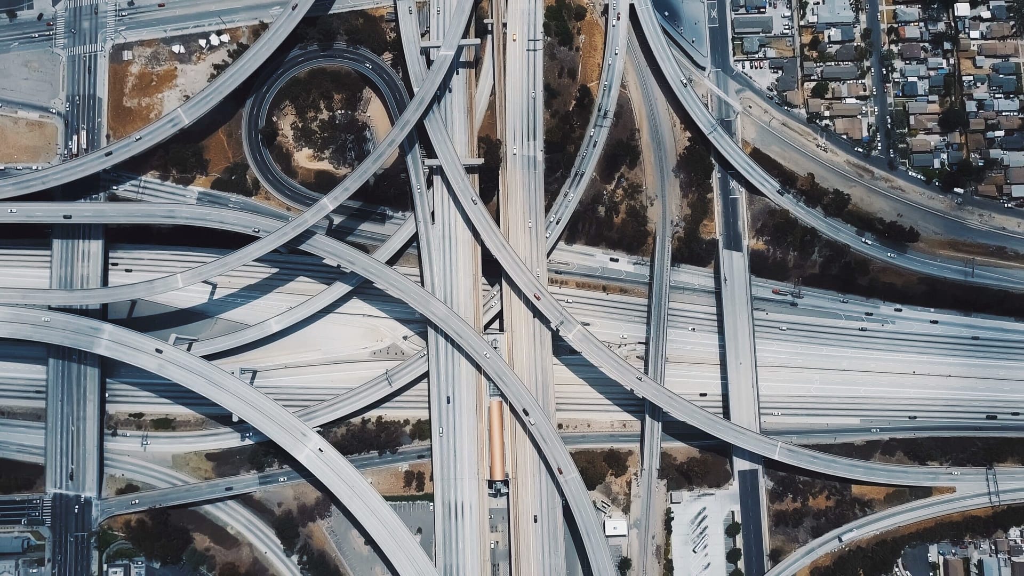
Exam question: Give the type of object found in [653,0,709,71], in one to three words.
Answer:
building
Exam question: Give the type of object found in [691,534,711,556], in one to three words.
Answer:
bus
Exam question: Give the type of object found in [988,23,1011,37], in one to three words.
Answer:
house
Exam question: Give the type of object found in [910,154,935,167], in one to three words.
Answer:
house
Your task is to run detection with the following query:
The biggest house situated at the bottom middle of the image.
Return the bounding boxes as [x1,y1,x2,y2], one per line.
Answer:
[605,518,627,536]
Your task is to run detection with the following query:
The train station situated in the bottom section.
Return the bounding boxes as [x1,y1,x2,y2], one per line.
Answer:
[482,333,510,482]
